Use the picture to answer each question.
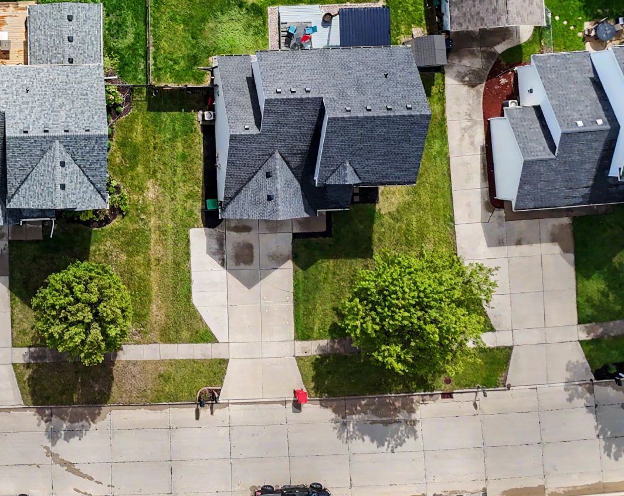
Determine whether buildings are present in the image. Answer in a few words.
Yes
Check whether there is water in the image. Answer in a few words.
No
